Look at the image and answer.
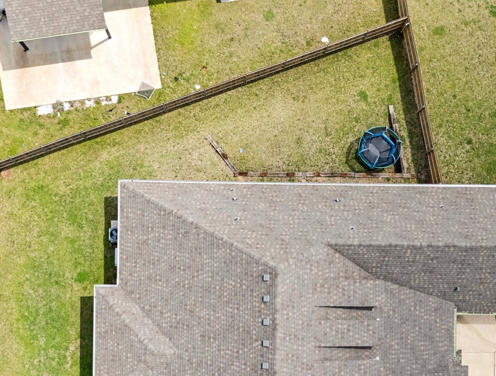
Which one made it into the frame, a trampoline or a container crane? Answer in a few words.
trampoline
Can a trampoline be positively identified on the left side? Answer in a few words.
No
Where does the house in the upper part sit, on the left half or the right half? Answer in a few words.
left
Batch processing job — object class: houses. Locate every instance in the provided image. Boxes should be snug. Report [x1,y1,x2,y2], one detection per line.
[91,177,496,376]
[3,0,112,53]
